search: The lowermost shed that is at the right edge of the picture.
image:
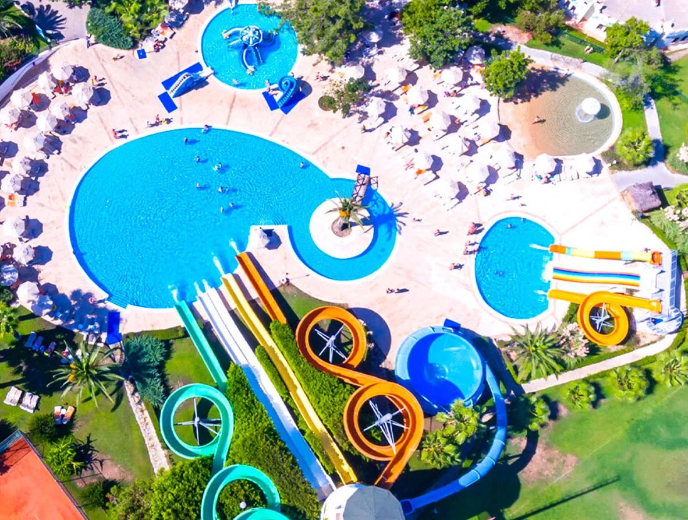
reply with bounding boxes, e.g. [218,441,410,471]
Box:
[619,182,659,215]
